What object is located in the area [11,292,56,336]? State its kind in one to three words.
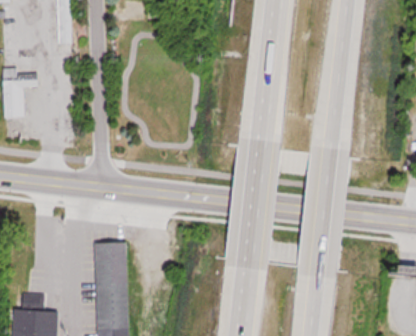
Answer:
building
